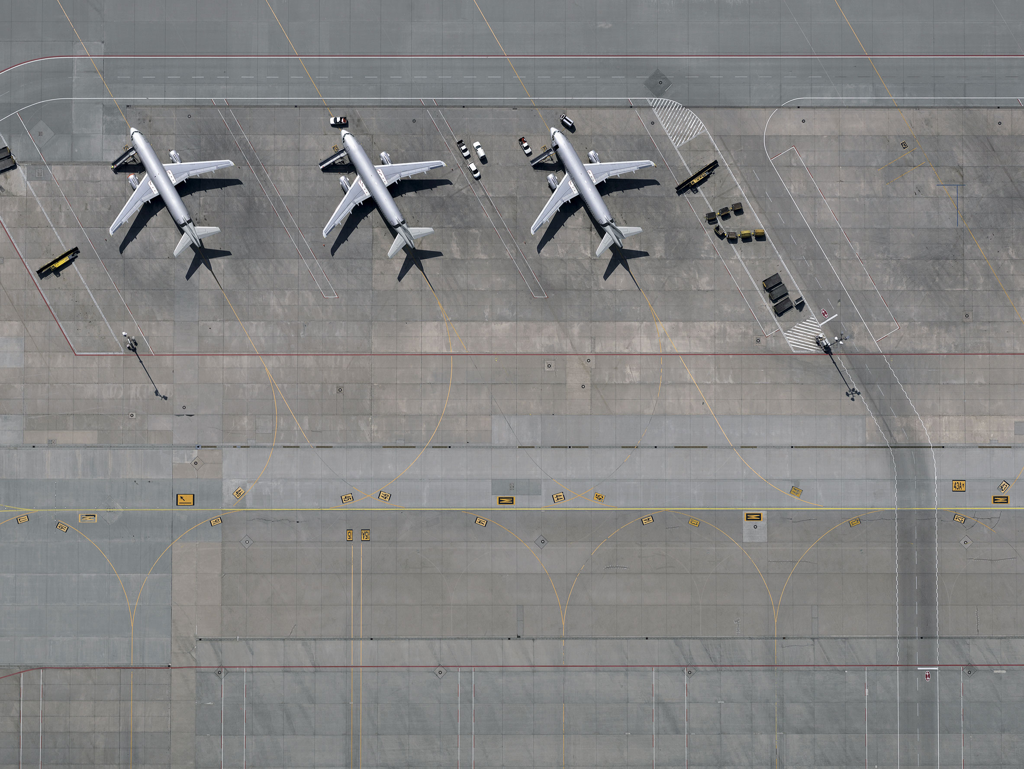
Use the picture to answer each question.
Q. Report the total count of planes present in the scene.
three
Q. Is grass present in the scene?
No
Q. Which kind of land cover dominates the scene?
paved ground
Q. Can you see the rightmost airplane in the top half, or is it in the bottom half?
top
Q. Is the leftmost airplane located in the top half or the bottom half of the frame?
top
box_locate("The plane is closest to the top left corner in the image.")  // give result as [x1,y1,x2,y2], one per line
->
[109,128,234,257]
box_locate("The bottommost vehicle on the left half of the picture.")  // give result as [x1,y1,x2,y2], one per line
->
[35,247,78,273]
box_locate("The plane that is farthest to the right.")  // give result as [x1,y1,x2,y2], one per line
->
[529,128,656,257]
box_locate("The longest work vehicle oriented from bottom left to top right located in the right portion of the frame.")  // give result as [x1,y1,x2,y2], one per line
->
[676,162,717,189]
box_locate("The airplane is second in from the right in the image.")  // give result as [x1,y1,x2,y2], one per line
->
[322,130,447,258]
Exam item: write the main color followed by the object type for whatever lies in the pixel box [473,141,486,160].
white vehicle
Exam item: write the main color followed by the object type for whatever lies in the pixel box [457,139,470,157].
white vehicle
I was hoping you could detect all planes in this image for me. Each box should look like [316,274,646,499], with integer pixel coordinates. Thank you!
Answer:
[529,128,656,257]
[109,128,234,257]
[322,130,447,258]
